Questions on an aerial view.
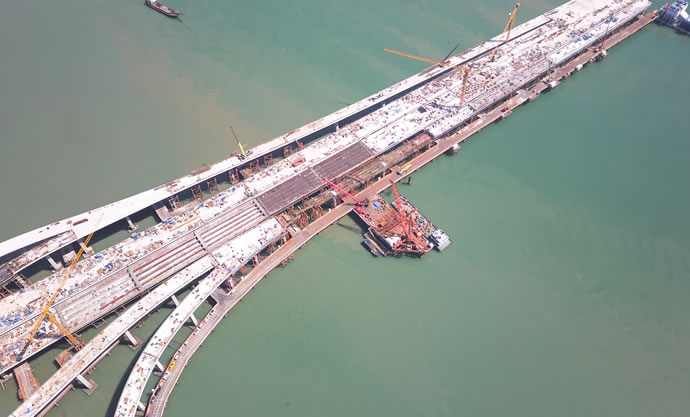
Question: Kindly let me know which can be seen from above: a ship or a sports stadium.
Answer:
ship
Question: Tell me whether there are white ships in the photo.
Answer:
Yes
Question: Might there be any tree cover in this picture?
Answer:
No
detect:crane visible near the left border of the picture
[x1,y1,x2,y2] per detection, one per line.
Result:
[16,216,103,362]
